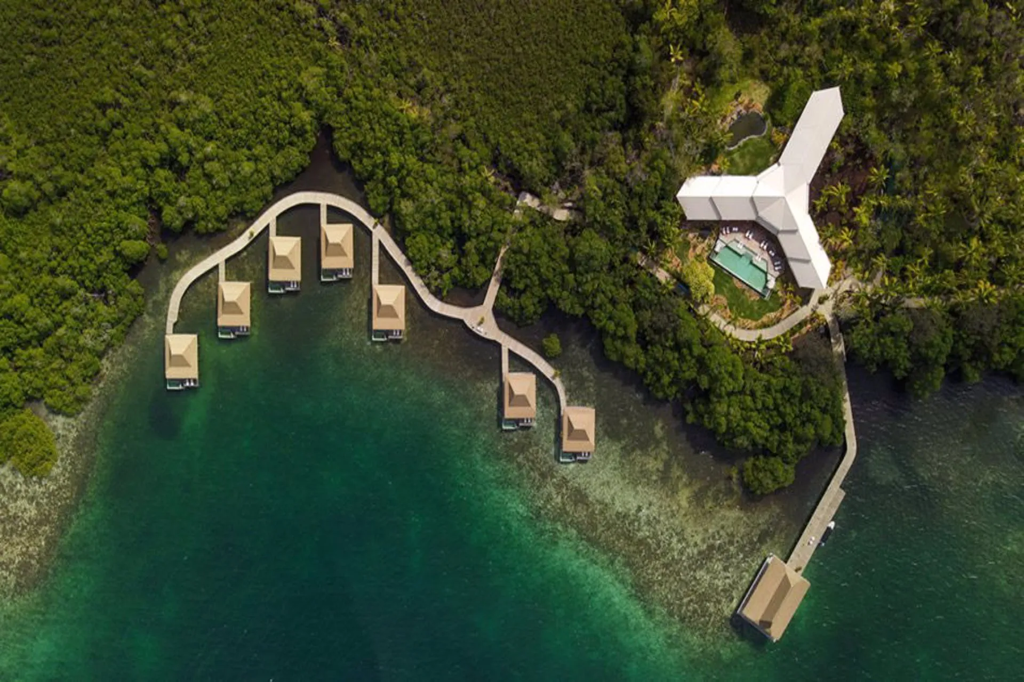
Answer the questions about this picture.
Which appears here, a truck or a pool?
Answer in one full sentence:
I can see a pool in this picture.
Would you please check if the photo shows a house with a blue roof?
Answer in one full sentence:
No, no house with a blue roof can be seen from above.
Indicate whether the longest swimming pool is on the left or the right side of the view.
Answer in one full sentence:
It is on the right.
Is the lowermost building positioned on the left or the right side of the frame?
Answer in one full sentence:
The lowermost building appears in the right half of the scene.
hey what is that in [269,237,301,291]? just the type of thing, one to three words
house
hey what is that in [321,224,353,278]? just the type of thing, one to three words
house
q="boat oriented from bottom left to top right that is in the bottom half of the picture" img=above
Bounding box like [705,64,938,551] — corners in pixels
[819,524,834,545]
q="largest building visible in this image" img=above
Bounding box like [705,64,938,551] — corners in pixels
[676,86,844,289]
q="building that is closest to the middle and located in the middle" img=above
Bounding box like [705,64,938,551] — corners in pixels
[502,373,536,425]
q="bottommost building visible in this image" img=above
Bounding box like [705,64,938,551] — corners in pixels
[738,552,811,640]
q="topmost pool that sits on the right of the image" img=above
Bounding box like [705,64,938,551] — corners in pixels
[709,240,768,298]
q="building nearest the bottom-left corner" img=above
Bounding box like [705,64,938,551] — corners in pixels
[165,335,199,387]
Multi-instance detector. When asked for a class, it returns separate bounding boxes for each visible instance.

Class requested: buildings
[321,224,353,278]
[502,373,536,425]
[373,285,405,338]
[165,335,199,387]
[218,282,251,335]
[269,237,301,291]
[676,86,844,289]
[560,407,595,459]
[738,552,811,640]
